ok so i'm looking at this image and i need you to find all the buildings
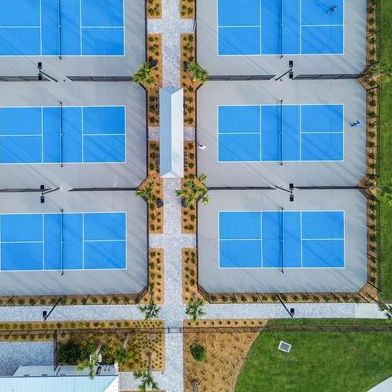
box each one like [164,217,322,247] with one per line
[159,88,183,178]
[0,365,121,392]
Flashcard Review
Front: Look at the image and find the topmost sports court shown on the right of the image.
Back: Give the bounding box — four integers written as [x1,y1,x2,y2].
[196,0,369,81]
